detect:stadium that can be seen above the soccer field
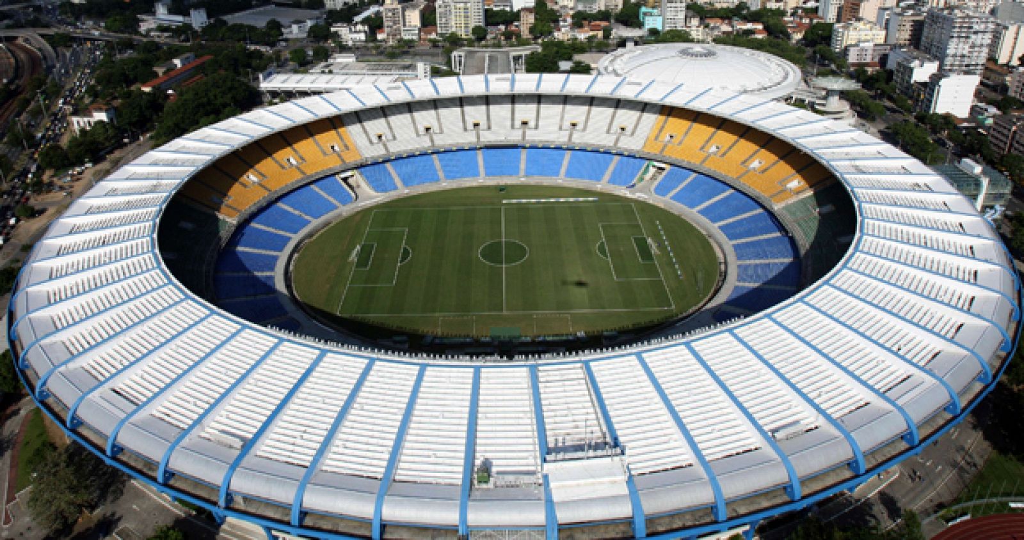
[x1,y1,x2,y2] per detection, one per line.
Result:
[598,41,805,104]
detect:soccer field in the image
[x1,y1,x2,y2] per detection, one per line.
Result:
[298,182,723,352]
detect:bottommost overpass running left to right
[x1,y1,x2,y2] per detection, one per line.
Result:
[0,28,200,50]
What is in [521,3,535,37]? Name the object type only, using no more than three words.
building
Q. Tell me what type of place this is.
sports ground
